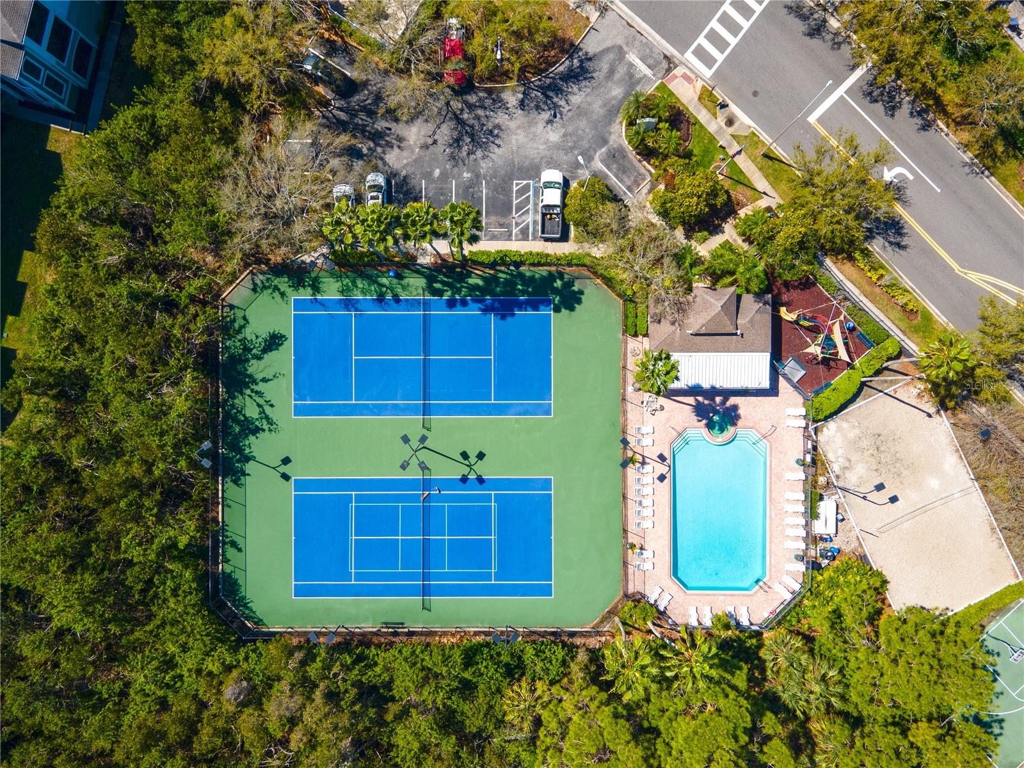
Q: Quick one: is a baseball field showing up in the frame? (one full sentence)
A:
No, I can see no baseball field in this picture.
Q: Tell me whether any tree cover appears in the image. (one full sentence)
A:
Yes, tree cover can be seen from above here.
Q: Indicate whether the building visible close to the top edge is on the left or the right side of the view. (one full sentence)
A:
The building visible close to the top edge appears in the left half of the scene.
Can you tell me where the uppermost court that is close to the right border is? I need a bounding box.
[813,378,1024,617]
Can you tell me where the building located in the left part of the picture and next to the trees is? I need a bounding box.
[0,0,125,113]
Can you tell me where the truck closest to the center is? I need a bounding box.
[538,171,566,239]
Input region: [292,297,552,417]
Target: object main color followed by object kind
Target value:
blue tennis court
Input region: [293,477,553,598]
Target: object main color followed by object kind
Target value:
blue tennis court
